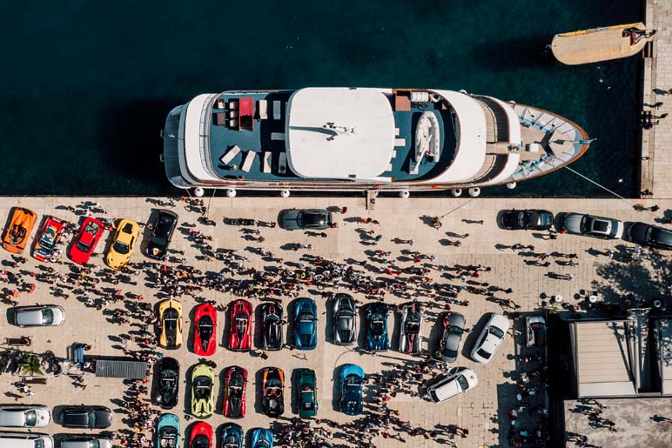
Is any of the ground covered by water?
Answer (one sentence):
Yes, there is water in the image.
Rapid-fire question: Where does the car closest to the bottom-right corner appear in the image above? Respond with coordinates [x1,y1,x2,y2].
[524,310,550,352]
